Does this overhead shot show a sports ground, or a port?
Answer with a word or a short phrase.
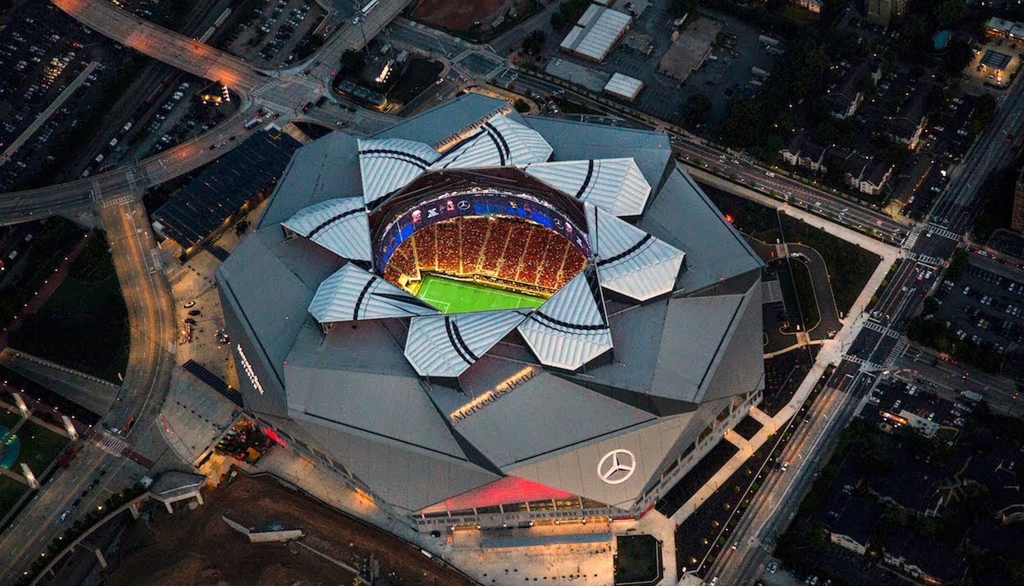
sports ground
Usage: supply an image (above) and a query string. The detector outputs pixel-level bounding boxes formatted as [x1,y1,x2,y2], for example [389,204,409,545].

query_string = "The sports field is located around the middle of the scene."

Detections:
[415,273,549,311]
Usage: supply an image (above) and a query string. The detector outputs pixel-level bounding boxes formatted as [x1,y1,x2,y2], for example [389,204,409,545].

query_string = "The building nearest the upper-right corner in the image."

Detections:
[987,17,1024,45]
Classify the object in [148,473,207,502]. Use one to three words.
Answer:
building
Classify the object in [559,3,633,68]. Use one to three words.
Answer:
building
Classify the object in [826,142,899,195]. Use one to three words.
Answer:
house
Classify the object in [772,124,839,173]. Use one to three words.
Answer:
house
